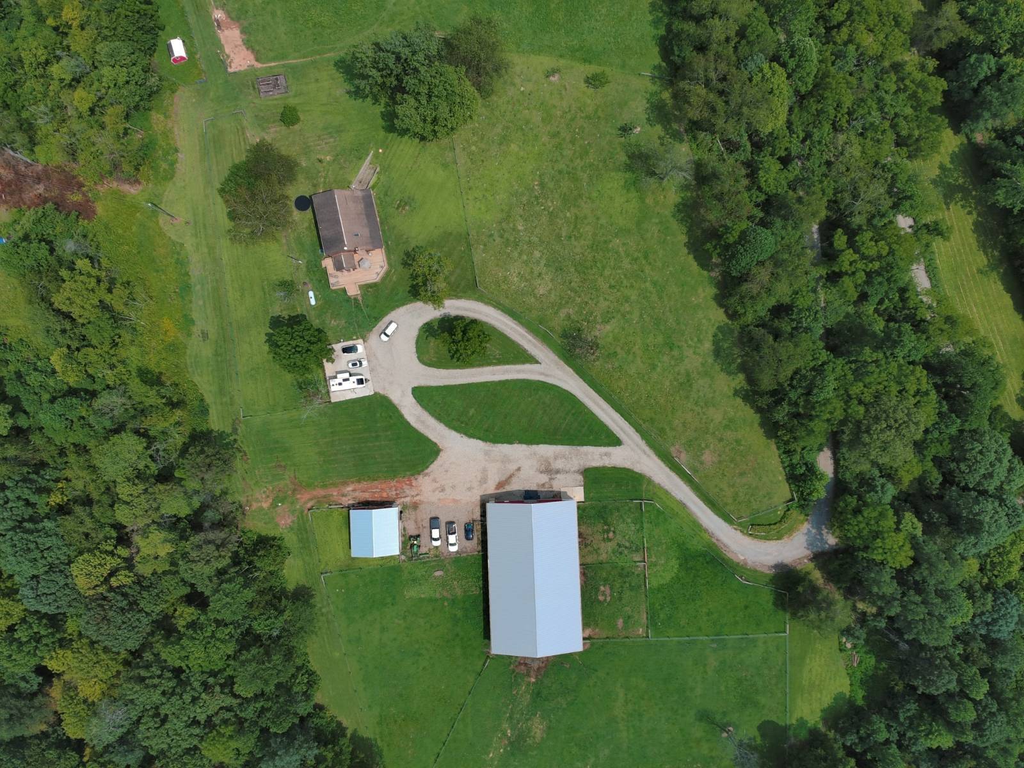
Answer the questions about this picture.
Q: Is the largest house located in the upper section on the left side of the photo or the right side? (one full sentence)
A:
You can find the largest house located in the upper section on the left side of the picture.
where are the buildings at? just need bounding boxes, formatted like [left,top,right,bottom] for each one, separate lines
[312,186,384,272]
[350,507,400,557]
[486,499,582,657]
[166,39,187,64]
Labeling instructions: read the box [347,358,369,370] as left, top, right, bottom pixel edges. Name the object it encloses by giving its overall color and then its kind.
white vehicle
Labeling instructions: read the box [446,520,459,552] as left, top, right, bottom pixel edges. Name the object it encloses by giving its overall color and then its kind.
white vehicle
